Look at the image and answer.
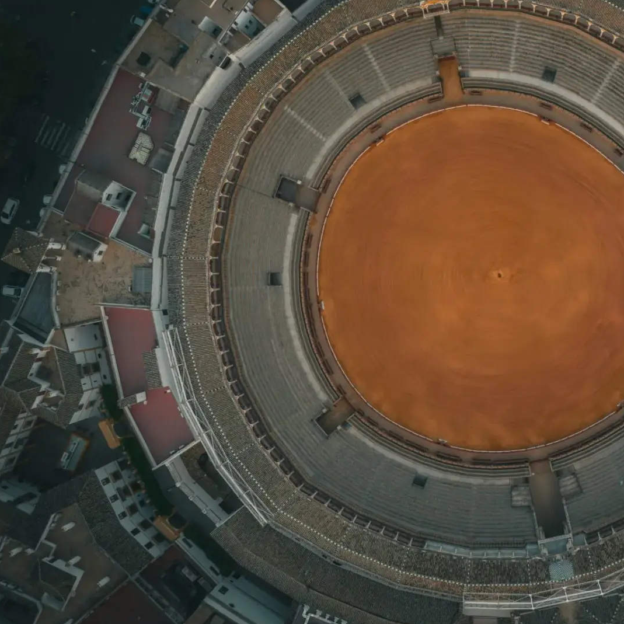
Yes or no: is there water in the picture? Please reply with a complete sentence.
No, the scene doesn't show any water.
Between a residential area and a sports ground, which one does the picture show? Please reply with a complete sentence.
The picture captures a residential area.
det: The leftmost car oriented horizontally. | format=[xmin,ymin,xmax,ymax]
[0,285,25,298]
